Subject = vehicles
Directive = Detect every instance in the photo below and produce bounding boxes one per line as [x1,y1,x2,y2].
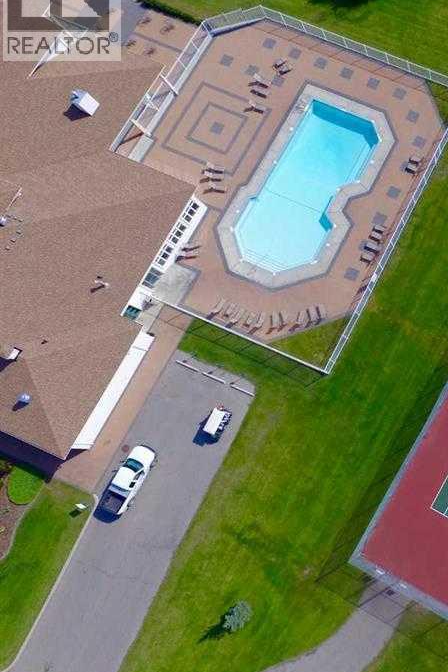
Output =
[203,405,235,436]
[92,444,159,518]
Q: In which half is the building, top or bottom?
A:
top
